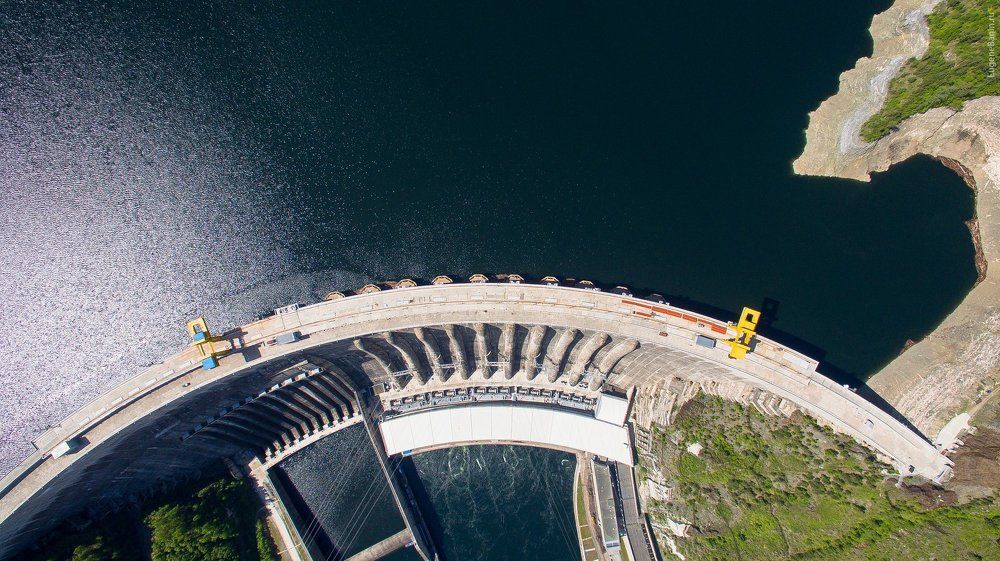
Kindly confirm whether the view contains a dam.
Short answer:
Yes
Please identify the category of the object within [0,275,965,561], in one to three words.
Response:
dam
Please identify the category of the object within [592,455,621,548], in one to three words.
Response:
building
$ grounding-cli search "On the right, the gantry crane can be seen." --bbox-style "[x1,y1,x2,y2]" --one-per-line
[720,305,760,360]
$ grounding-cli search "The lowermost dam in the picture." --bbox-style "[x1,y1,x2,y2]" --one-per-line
[349,529,411,561]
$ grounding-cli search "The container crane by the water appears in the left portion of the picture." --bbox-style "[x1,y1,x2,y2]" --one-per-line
[191,316,234,370]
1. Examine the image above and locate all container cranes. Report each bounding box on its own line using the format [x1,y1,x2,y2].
[720,305,760,360]
[191,316,234,370]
